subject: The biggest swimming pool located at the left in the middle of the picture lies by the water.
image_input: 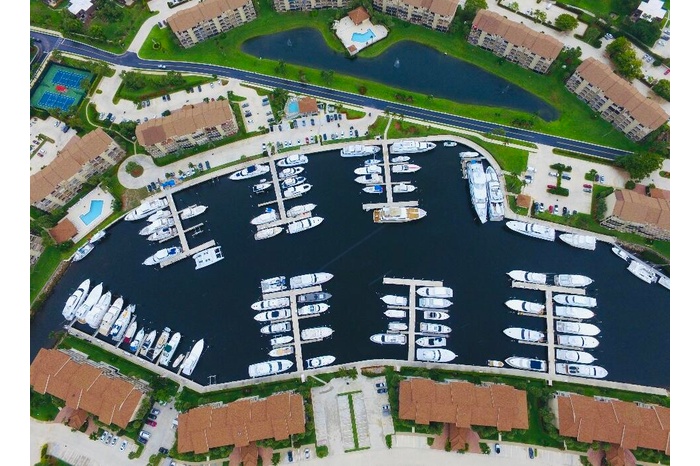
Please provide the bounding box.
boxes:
[57,182,114,241]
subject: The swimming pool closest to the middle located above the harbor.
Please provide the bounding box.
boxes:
[284,97,304,119]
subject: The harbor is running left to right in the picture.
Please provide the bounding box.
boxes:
[0,135,700,396]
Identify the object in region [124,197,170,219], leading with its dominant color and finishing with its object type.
white boat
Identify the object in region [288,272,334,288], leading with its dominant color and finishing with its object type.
white boat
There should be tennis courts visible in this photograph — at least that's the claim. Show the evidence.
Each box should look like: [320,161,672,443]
[51,69,87,90]
[31,63,92,107]
[37,91,76,111]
